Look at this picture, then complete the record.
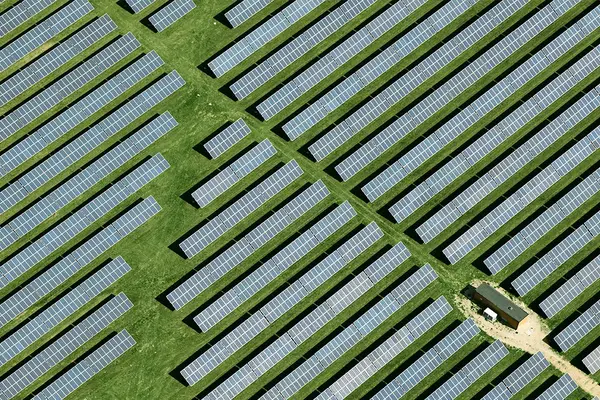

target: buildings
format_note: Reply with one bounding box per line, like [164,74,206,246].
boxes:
[475,281,528,327]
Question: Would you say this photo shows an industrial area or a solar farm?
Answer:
solar farm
